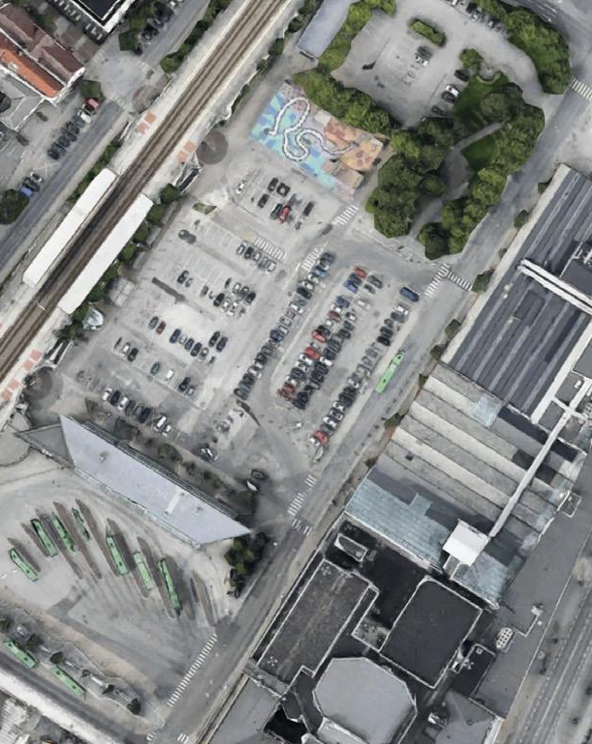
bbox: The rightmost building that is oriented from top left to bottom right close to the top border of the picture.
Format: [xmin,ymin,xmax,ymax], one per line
[48,0,112,46]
